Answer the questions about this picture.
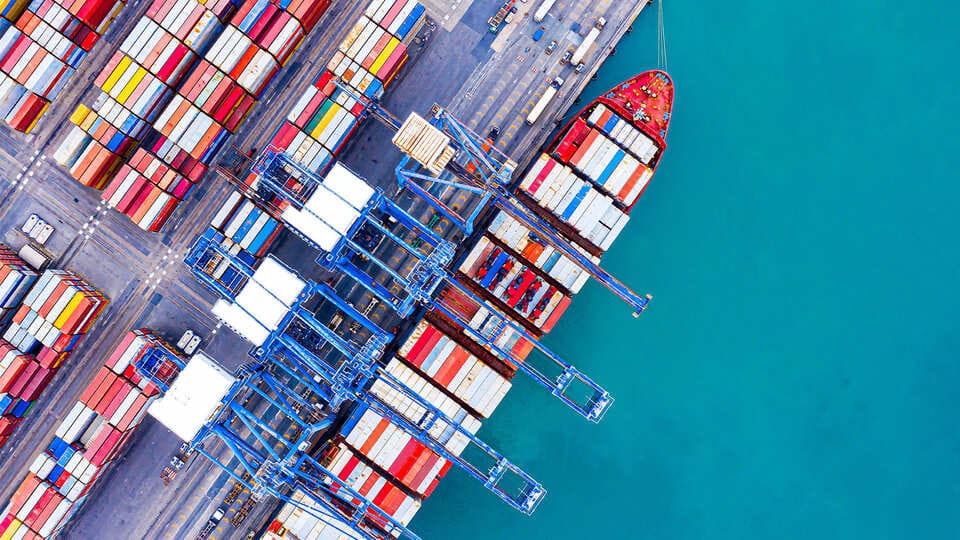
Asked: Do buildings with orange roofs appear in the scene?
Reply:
No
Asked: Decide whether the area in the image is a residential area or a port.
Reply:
port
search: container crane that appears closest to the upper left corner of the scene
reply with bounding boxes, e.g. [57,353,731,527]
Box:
[213,138,300,212]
